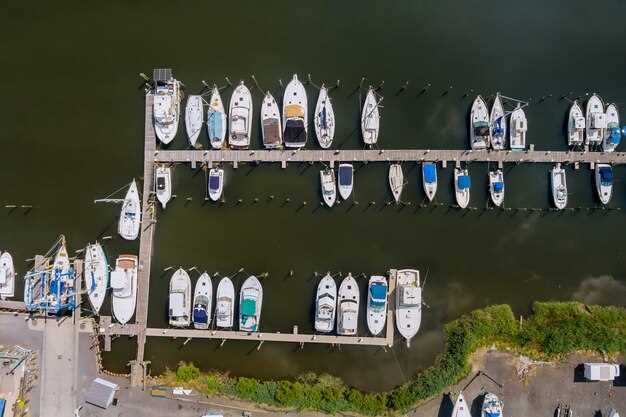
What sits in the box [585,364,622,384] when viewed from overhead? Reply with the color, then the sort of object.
white vehicle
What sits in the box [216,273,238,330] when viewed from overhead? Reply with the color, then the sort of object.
white boat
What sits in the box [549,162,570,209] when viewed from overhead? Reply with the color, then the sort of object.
white boat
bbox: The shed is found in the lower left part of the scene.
[87,377,119,409]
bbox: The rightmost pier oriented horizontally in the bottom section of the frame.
[147,323,386,348]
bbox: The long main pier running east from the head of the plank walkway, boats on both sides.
[155,143,626,170]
